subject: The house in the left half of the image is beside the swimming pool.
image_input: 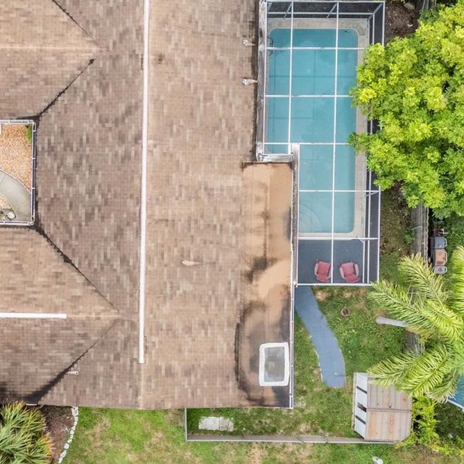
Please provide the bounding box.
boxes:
[0,0,297,410]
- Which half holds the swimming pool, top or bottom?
top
